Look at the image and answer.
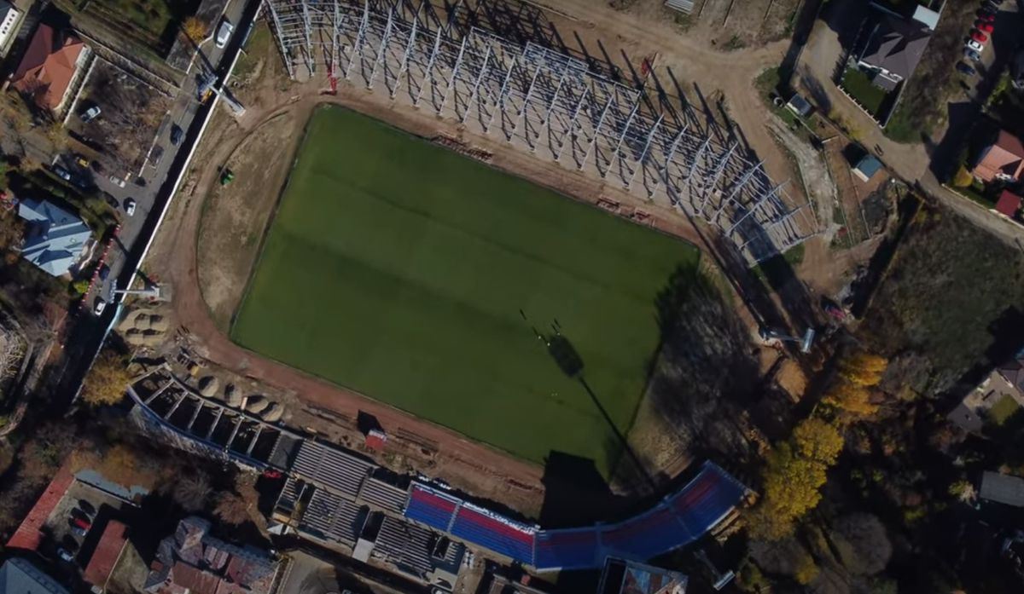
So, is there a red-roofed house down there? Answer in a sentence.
Yes, you can see a red-roofed house in this photo.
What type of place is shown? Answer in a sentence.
The area seen from above is a sports ground.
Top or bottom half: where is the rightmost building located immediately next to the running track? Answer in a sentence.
The rightmost building located immediately next to the running track is in the bottom half of the image.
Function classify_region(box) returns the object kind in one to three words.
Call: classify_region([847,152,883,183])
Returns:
shed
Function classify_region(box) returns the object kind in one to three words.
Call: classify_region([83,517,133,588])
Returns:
house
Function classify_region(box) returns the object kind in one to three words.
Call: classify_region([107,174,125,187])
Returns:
vehicle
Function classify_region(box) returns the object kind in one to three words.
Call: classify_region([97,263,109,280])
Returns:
vehicle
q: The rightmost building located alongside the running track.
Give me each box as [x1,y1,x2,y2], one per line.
[591,551,688,594]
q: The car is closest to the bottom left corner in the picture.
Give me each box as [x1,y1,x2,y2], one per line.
[56,548,73,561]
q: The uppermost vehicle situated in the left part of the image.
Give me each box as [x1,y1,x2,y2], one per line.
[212,18,232,47]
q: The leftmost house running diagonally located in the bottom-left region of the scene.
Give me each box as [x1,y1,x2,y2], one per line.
[6,461,82,549]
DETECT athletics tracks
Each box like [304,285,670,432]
[174,86,773,513]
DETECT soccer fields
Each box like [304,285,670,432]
[232,106,699,478]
